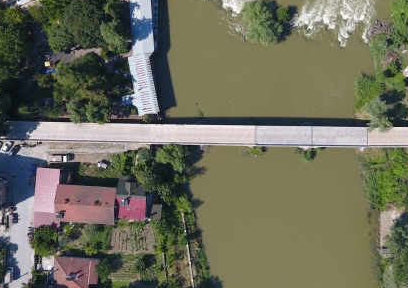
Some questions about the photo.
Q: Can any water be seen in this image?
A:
Yes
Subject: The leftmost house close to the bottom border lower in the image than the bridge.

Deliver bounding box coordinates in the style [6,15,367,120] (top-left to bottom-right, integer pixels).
[53,253,92,288]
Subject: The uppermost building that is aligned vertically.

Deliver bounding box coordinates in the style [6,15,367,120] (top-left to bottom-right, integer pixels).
[130,0,155,49]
